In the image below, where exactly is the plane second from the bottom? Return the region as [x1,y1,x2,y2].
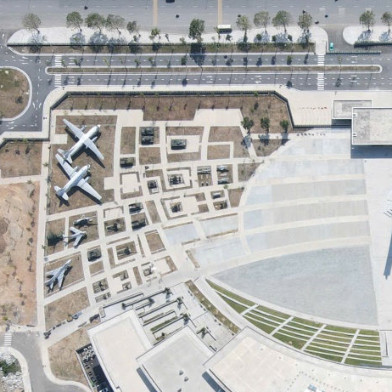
[62,224,85,245]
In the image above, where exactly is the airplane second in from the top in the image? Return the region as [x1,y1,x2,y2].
[54,154,98,198]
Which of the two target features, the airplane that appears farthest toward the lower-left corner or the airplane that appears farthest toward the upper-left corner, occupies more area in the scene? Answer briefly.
the airplane that appears farthest toward the upper-left corner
